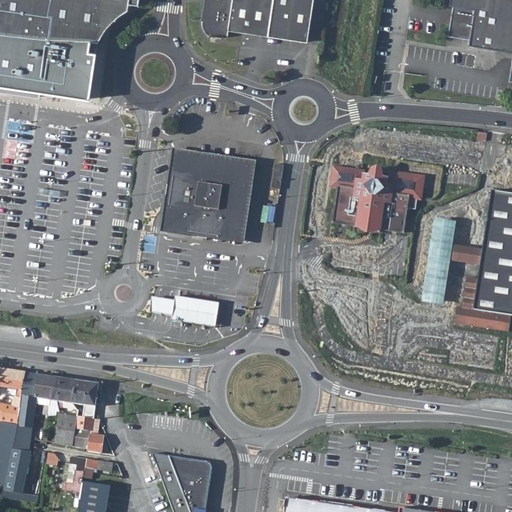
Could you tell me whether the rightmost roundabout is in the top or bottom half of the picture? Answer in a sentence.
The rightmost roundabout sits in the top half of the picture.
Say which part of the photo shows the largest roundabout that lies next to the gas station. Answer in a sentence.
Look in the bottom portion of the view to spot the largest roundabout that lies next to the gas station.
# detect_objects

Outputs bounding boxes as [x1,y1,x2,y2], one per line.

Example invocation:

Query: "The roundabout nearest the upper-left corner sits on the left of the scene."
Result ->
[121,34,196,116]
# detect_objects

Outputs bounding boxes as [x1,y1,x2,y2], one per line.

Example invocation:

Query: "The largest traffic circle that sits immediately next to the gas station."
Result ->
[211,338,317,444]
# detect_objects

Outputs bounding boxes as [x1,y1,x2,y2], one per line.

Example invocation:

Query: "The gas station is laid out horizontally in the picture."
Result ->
[152,294,220,326]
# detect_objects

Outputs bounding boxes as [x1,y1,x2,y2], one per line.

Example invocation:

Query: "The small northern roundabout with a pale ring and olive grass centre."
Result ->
[272,80,337,143]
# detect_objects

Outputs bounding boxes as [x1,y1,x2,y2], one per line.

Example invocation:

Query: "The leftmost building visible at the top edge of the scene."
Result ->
[0,0,138,102]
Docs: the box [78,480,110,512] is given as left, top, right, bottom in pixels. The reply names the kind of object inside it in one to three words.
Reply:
building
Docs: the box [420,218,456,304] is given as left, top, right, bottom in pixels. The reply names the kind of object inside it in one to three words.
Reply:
greenhouse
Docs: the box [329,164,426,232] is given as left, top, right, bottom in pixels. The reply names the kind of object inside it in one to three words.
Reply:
building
